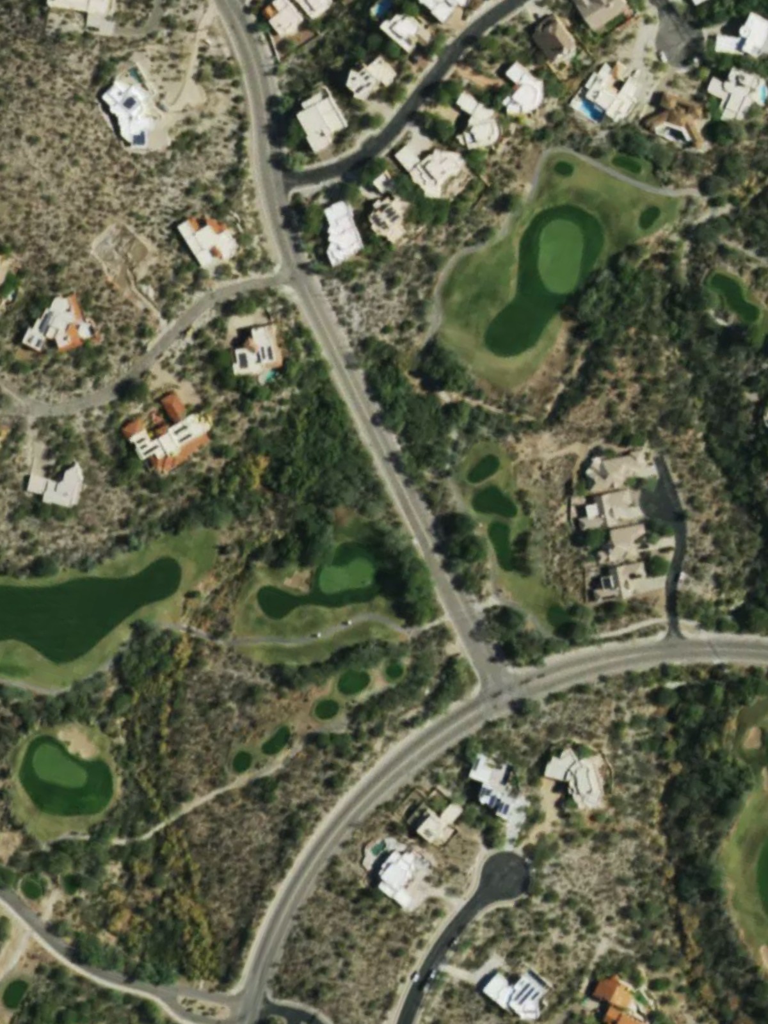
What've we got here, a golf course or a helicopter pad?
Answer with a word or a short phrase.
golf course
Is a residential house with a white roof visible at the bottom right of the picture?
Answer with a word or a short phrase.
Yes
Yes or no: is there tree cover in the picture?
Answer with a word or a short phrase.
Yes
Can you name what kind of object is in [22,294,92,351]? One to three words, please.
house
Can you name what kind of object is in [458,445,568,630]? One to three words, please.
golf course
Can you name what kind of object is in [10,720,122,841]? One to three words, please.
golf course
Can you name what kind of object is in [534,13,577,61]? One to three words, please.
house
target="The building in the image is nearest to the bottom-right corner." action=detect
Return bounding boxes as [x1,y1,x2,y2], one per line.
[594,976,648,1024]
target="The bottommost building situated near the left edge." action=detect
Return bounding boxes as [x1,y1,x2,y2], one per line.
[26,460,83,508]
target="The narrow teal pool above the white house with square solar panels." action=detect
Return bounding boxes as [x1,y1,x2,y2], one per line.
[128,66,148,89]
